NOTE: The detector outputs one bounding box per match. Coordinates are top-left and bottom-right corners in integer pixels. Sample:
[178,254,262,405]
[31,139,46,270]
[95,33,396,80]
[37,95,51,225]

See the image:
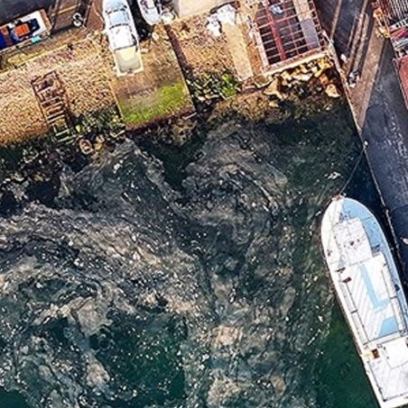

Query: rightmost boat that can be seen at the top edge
[136,0,161,25]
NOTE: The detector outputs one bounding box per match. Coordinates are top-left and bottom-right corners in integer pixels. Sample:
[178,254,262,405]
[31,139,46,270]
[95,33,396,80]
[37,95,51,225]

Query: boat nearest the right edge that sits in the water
[320,190,408,408]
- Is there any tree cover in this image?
No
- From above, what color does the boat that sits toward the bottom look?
white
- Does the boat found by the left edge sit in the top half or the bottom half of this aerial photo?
top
